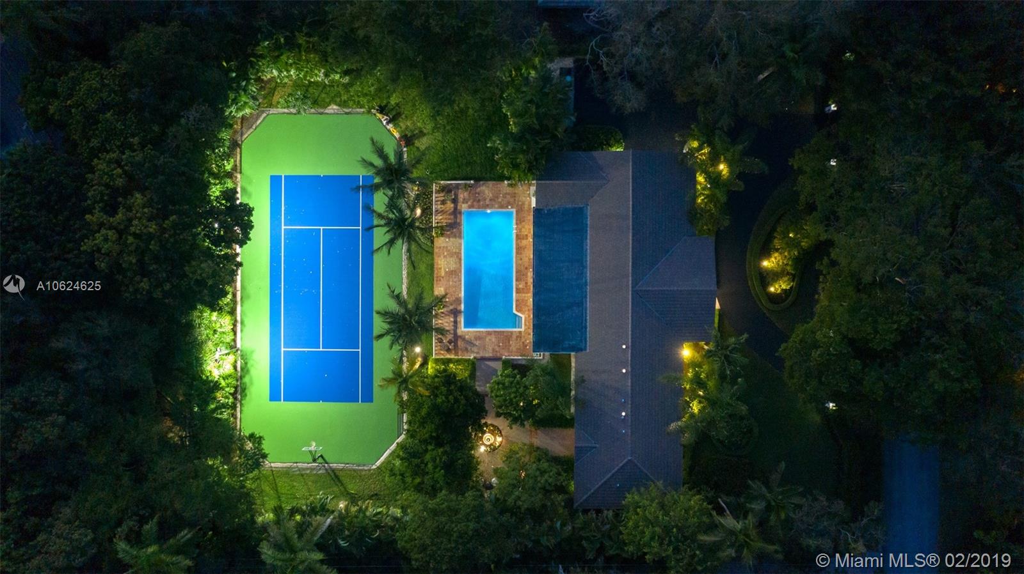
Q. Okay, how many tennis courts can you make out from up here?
1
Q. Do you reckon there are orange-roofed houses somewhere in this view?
No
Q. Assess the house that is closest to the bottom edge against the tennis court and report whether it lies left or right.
right of it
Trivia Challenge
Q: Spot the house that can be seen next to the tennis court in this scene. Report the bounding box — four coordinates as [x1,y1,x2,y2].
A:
[535,149,719,510]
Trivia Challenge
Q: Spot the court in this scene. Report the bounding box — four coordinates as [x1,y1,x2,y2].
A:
[235,108,408,471]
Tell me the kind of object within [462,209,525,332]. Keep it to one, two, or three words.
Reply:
swimming pool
